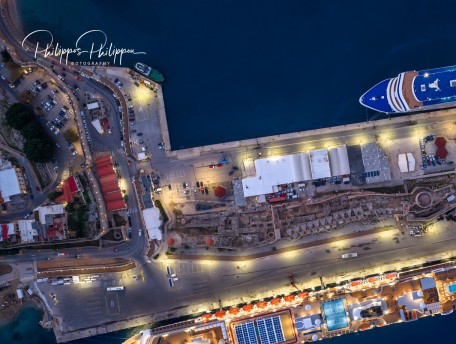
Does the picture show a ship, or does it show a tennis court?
ship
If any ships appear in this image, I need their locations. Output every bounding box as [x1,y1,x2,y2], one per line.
[359,65,456,109]
[123,260,456,344]
[131,57,165,81]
